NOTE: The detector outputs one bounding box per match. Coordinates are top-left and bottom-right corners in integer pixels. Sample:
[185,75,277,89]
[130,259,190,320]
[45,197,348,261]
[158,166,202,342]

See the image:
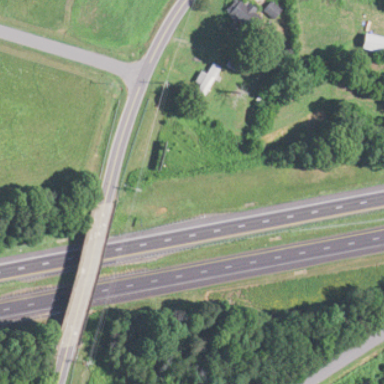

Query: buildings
[196,65,220,94]
[222,0,260,24]
[264,1,282,20]
[364,34,384,52]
